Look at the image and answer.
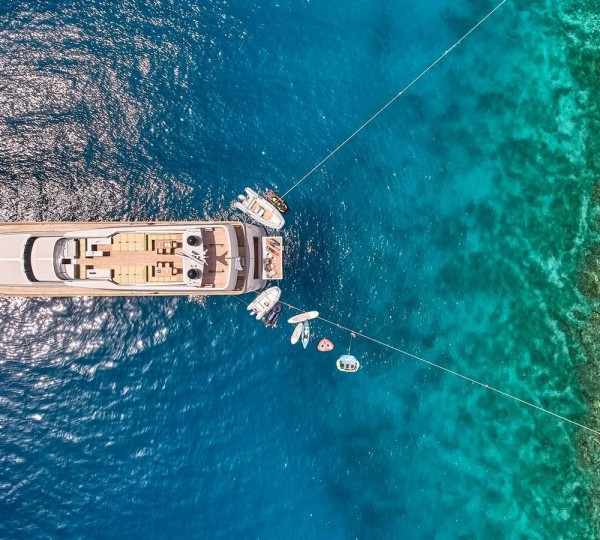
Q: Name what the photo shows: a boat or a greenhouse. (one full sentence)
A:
I can see a boat in this picture.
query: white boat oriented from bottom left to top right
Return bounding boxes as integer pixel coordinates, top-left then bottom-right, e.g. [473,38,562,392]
[247,286,279,319]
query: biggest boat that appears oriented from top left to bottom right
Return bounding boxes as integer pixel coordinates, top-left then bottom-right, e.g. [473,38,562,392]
[236,187,284,230]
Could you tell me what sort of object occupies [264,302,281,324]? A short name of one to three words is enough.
boat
